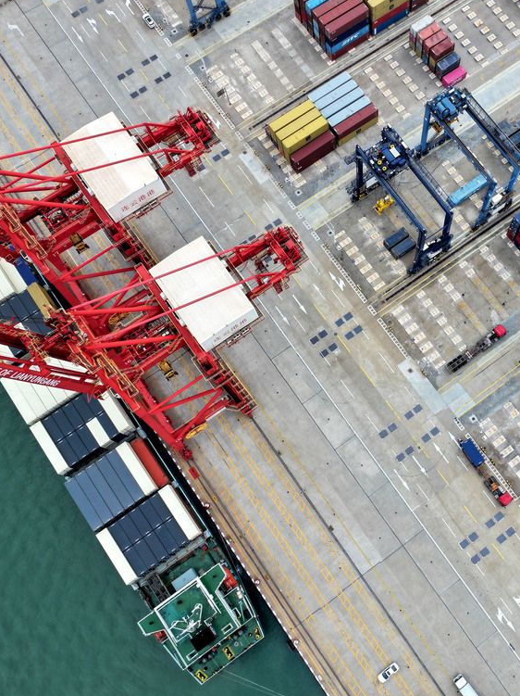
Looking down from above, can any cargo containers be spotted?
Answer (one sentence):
Yes, a cargo container is visible in the scene.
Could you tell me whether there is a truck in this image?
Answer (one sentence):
Yes, the picture does show a truck.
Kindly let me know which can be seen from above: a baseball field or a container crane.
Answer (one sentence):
This aerial view contains a container crane.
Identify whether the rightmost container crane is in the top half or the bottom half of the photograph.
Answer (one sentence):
You can find the rightmost container crane in the top half.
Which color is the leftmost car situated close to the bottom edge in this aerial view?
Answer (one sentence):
In this view, the leftmost car situated close to the bottom edge is white.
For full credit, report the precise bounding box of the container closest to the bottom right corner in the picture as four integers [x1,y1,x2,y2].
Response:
[459,438,485,467]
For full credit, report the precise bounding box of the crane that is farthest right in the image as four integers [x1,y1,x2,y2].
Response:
[415,77,520,231]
